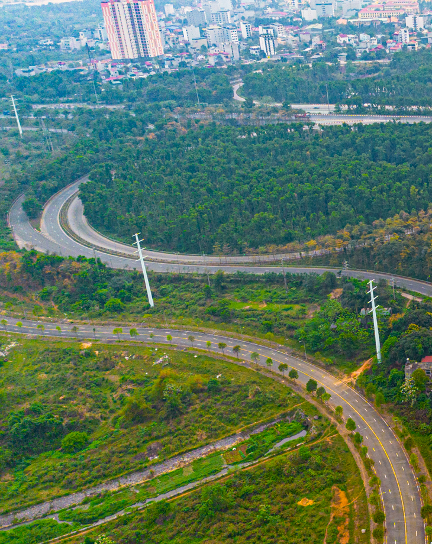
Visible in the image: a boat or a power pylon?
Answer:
power pylon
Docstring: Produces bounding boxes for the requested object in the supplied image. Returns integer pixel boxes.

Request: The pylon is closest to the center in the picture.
[132,232,157,306]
